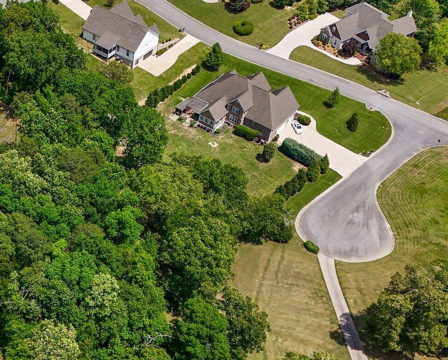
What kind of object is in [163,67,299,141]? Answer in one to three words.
house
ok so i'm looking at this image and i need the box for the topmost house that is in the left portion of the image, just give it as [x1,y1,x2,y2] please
[81,0,159,70]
